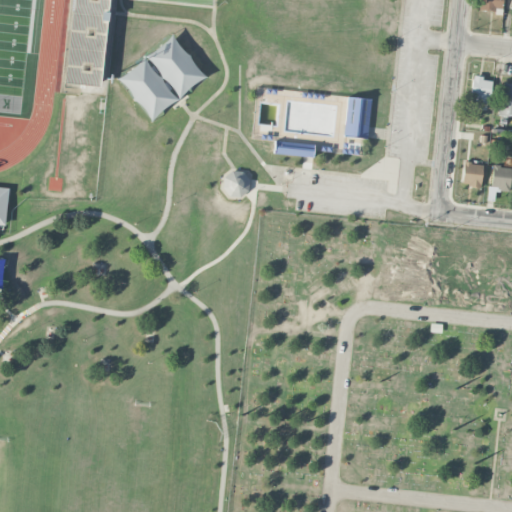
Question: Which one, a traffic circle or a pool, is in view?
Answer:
pool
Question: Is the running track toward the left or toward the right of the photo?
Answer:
left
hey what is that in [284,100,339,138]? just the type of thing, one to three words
swimming pool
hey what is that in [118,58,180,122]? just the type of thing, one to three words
building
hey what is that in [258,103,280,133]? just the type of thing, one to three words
swimming pool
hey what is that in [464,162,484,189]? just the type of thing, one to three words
house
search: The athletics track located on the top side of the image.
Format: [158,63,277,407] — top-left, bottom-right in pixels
[0,0,69,172]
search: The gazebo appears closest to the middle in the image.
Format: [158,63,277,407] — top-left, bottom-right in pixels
[220,168,253,200]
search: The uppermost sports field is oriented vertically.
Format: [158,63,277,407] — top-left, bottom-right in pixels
[0,0,44,118]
